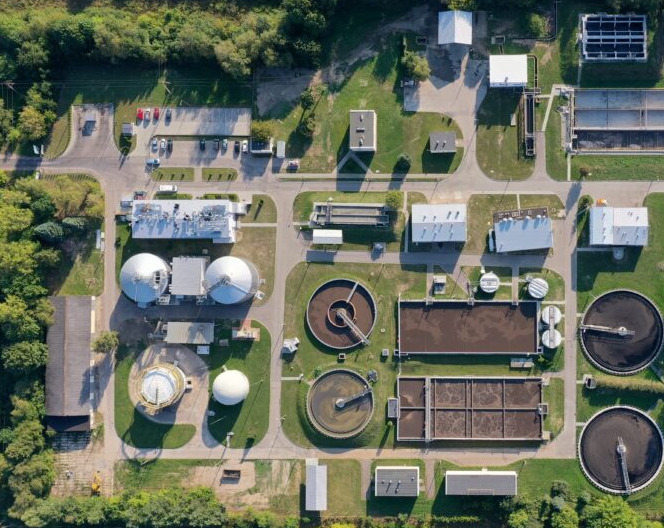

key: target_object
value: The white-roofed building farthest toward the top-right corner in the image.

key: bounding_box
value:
[489,54,527,89]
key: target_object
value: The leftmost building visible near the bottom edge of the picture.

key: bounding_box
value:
[306,455,328,510]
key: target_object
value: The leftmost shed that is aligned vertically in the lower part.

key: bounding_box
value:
[47,296,99,416]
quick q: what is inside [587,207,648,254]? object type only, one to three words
building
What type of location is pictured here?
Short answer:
industrial area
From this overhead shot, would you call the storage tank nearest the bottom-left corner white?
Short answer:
Yes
